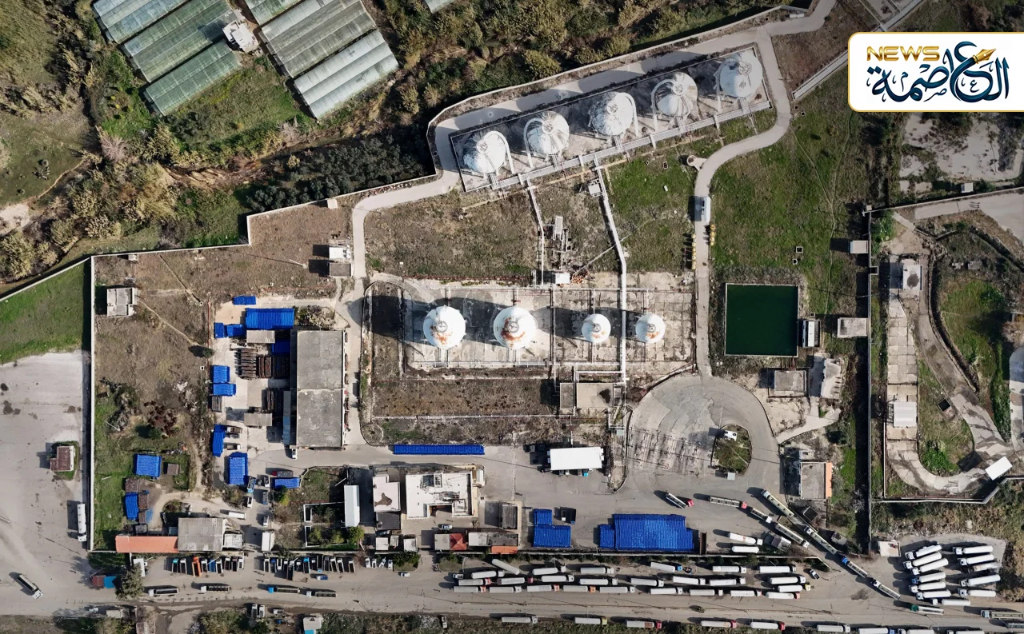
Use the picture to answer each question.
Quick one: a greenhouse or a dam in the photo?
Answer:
greenhouse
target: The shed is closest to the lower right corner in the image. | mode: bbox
[875,539,900,557]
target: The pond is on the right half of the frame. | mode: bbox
[724,285,798,370]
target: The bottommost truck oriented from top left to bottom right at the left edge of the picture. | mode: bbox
[18,573,45,598]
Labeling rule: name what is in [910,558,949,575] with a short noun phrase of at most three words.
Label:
vehicle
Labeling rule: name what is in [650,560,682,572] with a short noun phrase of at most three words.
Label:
vehicle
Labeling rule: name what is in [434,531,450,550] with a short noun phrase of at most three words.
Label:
building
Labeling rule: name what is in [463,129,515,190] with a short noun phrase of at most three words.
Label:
storage tank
